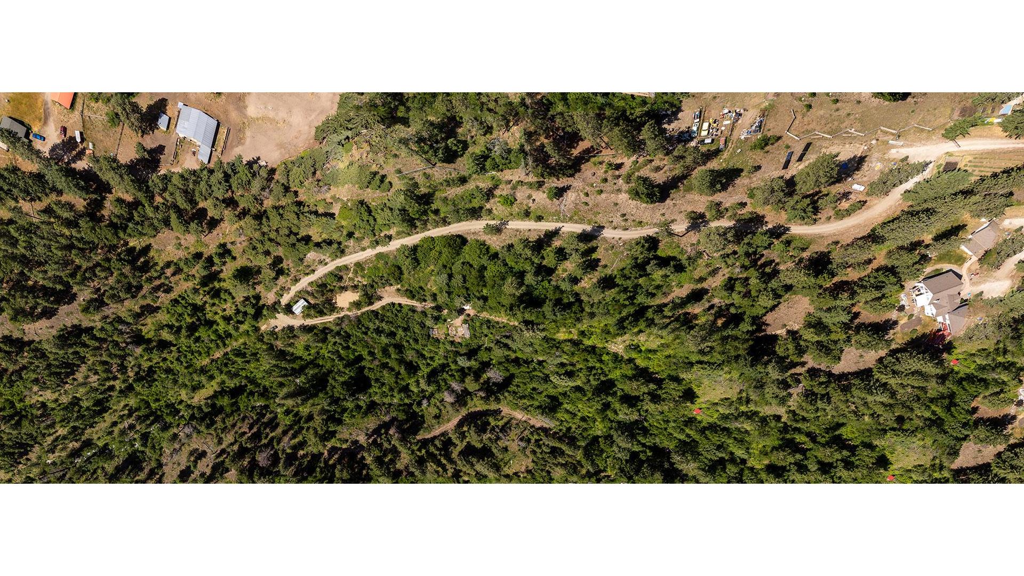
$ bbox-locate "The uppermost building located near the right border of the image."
[959,219,999,259]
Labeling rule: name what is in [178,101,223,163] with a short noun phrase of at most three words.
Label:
barn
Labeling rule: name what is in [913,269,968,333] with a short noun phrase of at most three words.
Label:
house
